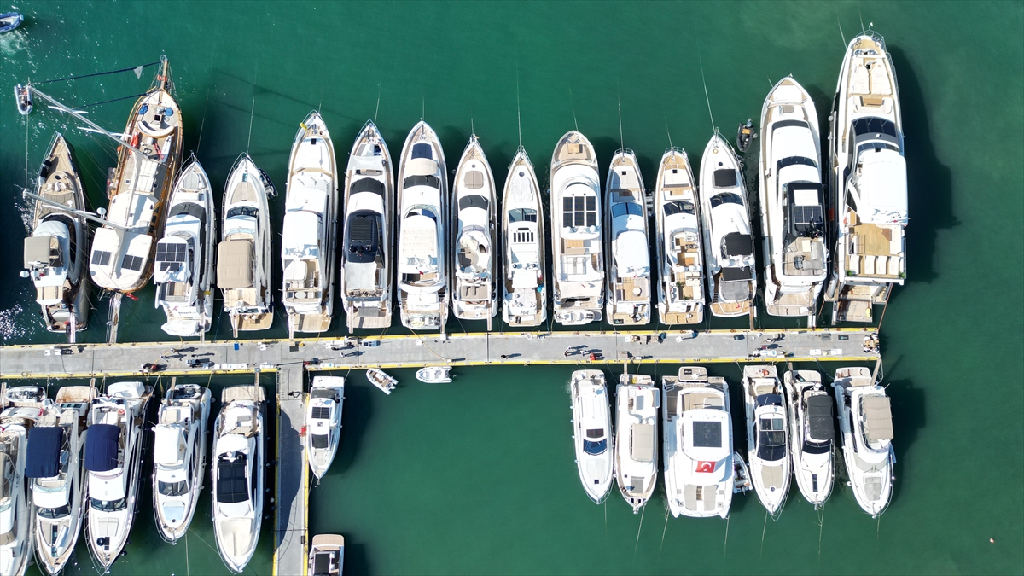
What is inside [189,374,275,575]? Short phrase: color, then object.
white boat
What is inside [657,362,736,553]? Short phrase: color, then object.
white boat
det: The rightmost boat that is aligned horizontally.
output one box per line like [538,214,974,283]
[554,310,595,324]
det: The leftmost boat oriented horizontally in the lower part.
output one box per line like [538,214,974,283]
[6,385,47,402]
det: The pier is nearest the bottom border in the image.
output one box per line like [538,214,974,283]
[273,358,311,576]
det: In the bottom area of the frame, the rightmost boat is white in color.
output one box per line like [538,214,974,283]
[818,362,898,533]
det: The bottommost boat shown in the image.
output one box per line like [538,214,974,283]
[308,535,348,576]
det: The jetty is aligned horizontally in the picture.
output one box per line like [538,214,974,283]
[0,327,879,378]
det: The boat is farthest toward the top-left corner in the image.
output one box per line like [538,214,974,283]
[0,8,26,32]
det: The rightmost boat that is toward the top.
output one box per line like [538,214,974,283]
[819,7,922,329]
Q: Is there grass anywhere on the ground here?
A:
No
